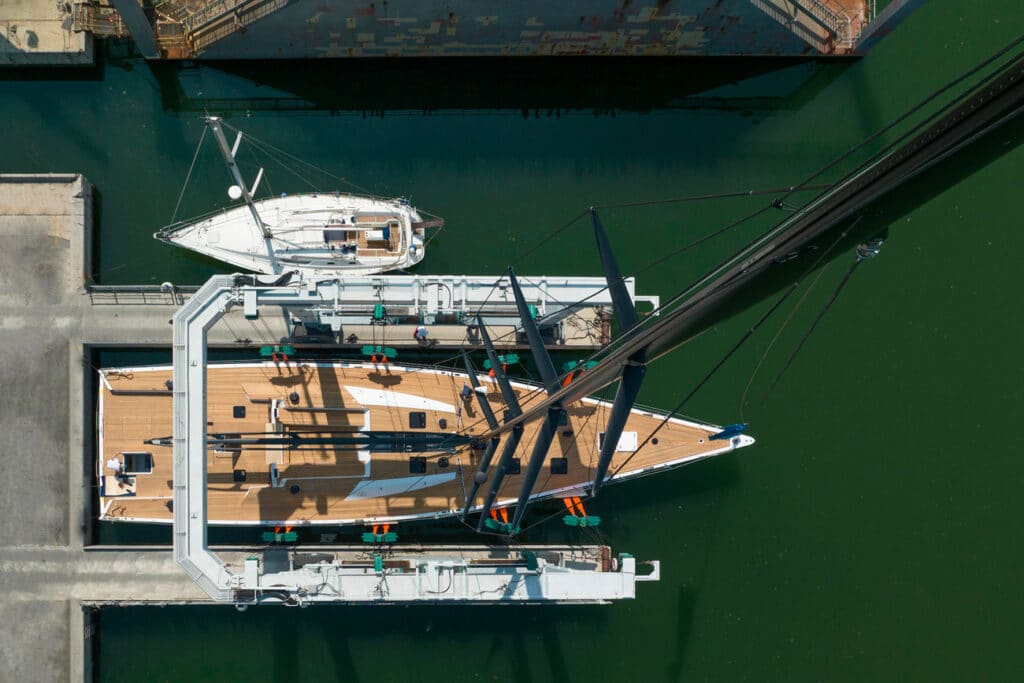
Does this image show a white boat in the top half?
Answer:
Yes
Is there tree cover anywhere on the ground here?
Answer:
No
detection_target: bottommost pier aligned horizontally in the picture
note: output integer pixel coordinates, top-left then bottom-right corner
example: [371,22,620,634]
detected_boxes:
[71,544,611,606]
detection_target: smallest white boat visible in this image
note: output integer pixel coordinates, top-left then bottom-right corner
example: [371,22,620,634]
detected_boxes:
[153,104,444,276]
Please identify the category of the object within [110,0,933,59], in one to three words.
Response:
pier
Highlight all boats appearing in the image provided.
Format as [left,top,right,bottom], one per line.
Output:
[98,33,1024,532]
[153,104,444,276]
